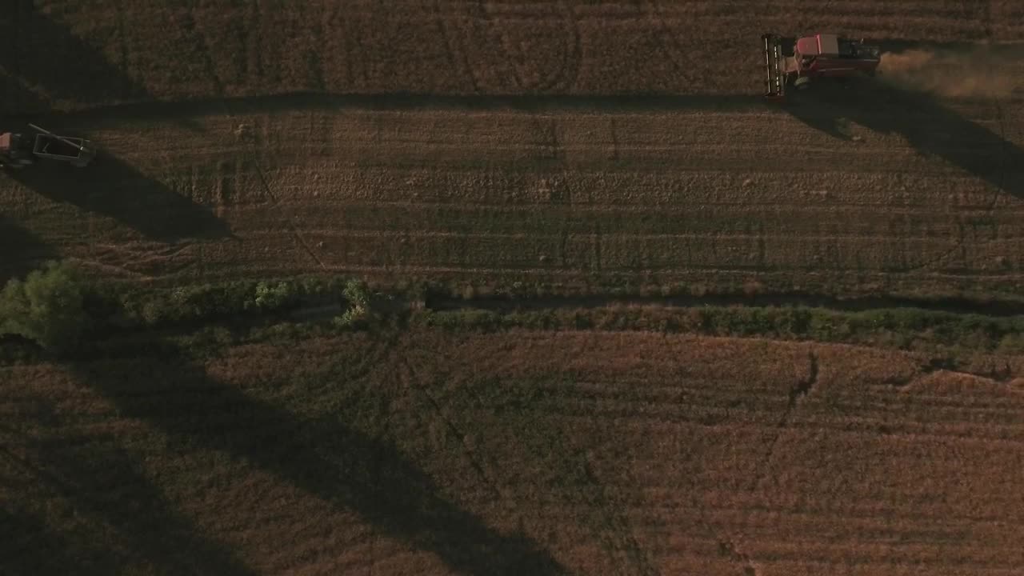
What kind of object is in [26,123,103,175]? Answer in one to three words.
trailer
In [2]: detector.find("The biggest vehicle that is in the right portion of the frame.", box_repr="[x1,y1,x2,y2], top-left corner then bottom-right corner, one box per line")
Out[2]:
[761,31,879,106]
